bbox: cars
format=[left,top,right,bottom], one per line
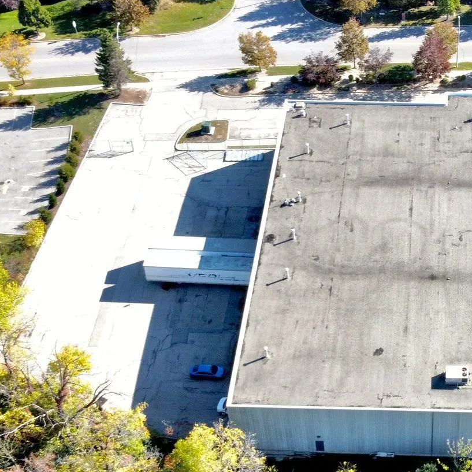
[188,364,226,381]
[213,401,230,422]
